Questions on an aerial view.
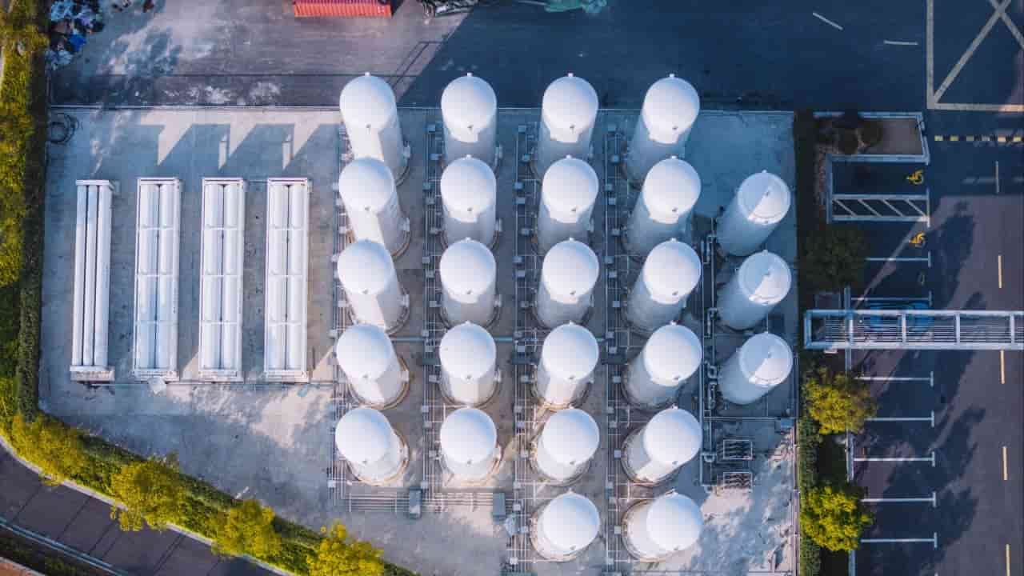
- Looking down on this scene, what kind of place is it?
industrial area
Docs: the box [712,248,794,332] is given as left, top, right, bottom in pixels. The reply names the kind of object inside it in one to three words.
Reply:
storage tank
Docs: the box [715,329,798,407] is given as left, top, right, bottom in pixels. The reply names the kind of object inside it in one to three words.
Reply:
storage tank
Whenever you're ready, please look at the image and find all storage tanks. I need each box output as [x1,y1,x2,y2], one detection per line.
[432,404,501,502]
[338,237,410,336]
[712,248,794,332]
[715,329,798,407]
[618,156,700,276]
[526,405,599,503]
[526,156,599,275]
[434,237,502,350]
[614,405,702,502]
[526,321,599,426]
[618,75,700,202]
[526,74,599,202]
[336,404,409,501]
[618,238,701,350]
[435,74,502,201]
[614,490,703,576]
[340,73,411,183]
[433,321,502,426]
[619,321,702,426]
[337,320,409,419]
[434,155,502,276]
[526,238,599,351]
[712,168,794,258]
[526,489,600,576]
[339,155,411,258]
